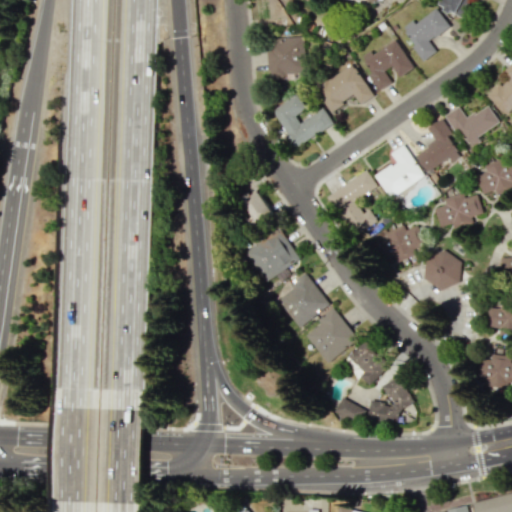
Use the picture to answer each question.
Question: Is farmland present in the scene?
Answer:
No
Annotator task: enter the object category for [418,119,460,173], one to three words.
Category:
house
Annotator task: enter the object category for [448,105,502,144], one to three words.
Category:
house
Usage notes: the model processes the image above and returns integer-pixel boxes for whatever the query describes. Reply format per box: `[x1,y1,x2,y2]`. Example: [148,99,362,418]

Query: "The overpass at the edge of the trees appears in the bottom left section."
[47,402,143,506]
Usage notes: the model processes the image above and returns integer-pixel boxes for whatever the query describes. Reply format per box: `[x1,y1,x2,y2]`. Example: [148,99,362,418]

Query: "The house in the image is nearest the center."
[248,234,299,281]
